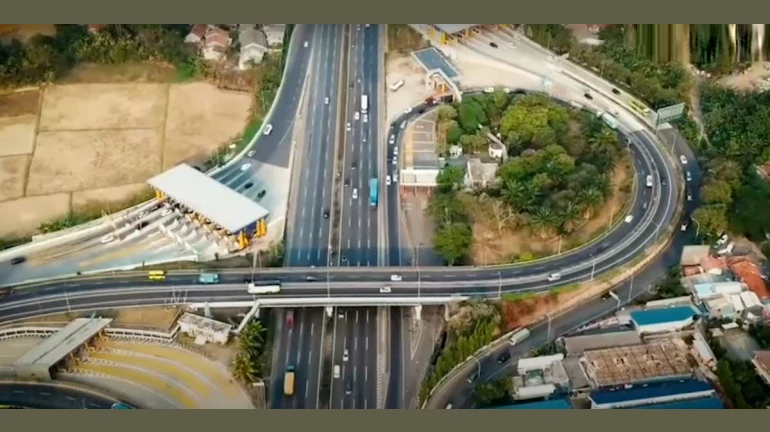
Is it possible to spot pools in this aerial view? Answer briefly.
No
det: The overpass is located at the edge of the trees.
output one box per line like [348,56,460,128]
[190,264,459,313]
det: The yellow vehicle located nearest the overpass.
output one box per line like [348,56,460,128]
[147,268,167,280]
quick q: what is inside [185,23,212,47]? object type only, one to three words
house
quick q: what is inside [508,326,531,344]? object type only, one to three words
vehicle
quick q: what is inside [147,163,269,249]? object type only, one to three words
toll station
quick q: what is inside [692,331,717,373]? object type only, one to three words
shed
